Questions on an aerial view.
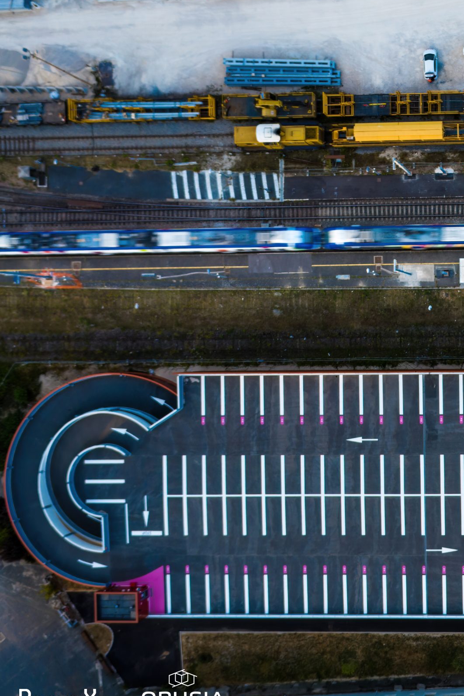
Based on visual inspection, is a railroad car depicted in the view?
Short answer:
Yes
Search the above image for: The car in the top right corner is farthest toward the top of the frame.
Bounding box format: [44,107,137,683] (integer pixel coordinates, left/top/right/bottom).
[421,48,439,82]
